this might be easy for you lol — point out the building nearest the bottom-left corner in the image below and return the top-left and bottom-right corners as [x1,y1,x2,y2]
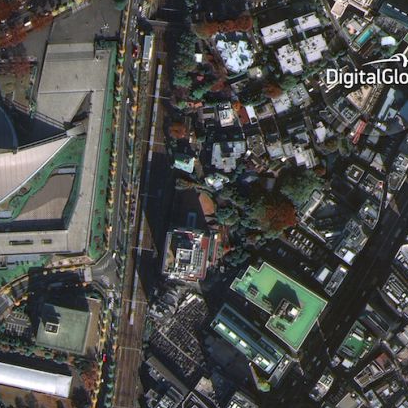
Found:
[0,364,72,400]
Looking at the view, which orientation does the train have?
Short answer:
from top to bottom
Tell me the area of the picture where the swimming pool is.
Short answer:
top right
